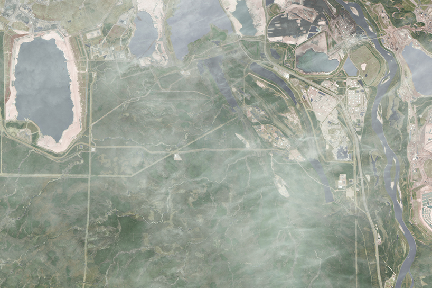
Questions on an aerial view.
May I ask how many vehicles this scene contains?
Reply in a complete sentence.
There are no vehicles in this view.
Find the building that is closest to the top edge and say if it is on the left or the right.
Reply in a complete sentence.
The building that is closest to the top edge sits on the right side.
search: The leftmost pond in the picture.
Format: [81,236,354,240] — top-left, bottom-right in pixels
[13,38,73,143]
